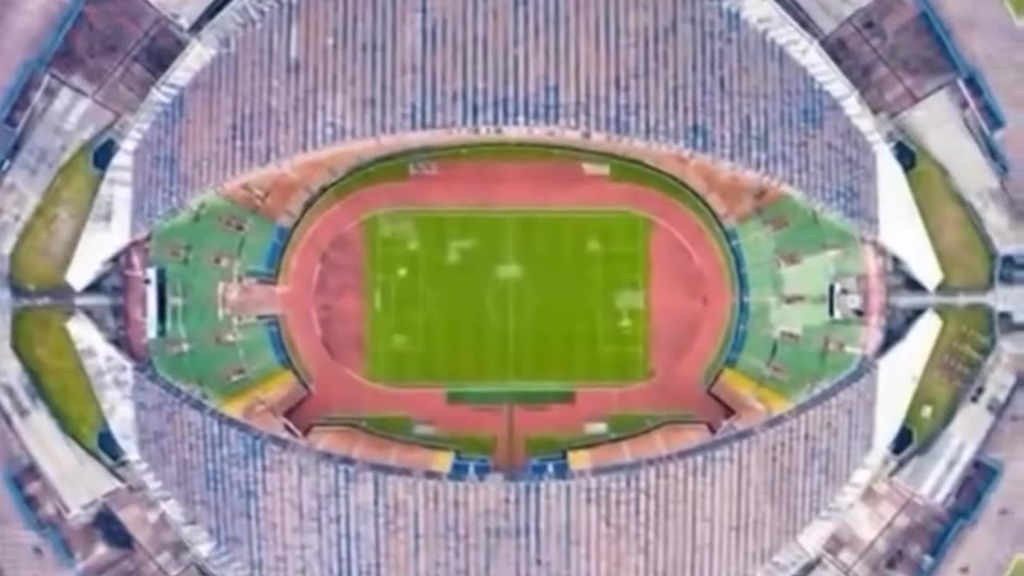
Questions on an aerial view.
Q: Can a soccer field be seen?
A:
Yes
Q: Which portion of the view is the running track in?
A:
center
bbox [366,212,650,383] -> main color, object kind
green soccer field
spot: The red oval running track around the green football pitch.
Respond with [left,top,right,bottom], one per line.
[280,147,735,478]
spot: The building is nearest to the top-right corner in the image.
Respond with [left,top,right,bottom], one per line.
[891,141,918,168]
